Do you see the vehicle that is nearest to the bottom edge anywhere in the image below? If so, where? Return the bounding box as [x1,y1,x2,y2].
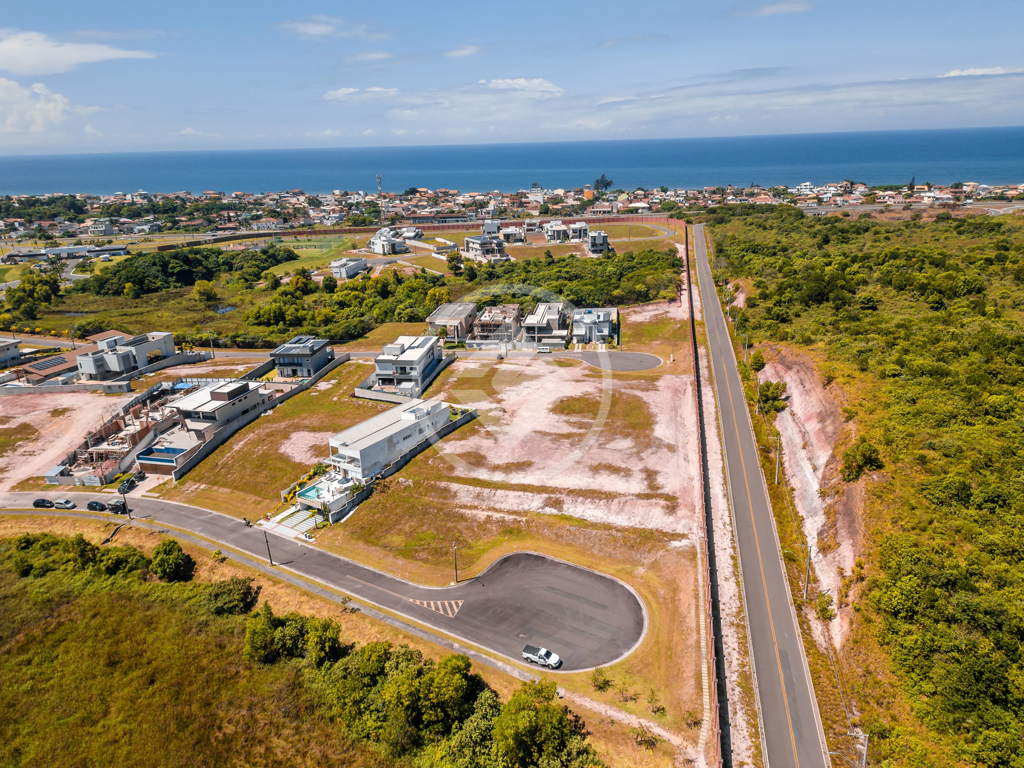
[522,643,563,668]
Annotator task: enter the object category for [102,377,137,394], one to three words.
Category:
shed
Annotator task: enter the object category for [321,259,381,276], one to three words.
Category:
house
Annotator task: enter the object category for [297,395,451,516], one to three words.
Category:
building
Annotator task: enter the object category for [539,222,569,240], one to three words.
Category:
house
